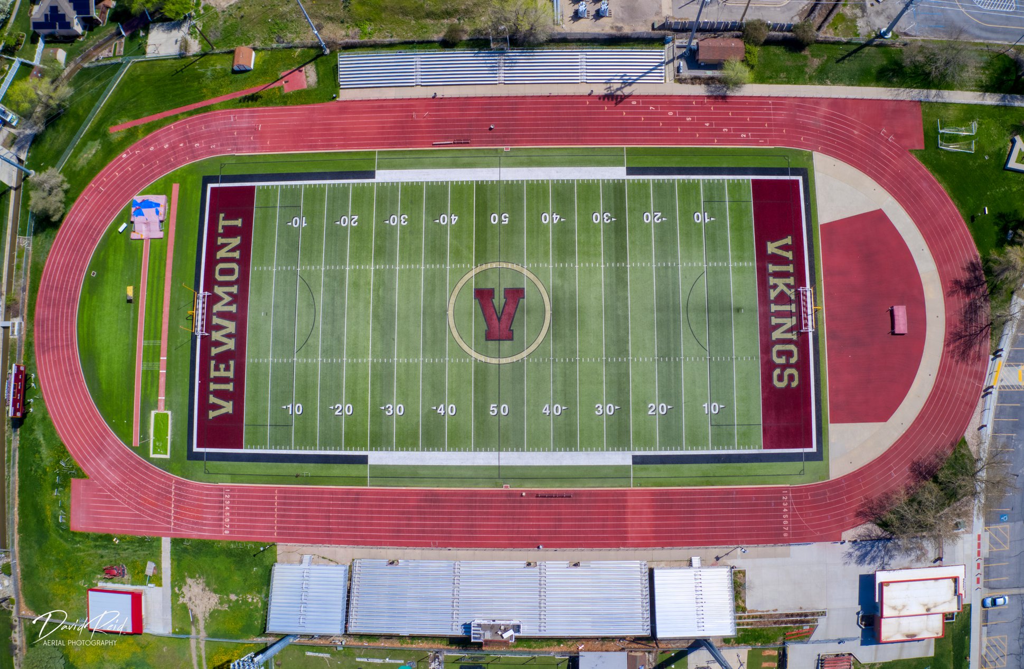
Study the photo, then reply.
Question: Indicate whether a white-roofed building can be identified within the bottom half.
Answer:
Yes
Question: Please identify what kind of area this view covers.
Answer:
sports ground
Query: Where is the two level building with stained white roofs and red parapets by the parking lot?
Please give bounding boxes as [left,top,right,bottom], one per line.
[870,564,967,643]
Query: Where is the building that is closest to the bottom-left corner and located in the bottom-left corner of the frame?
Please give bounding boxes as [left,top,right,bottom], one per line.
[87,586,145,633]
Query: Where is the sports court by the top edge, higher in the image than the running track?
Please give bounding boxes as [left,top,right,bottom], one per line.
[146,19,187,54]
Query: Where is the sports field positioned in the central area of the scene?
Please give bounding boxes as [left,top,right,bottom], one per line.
[244,179,762,452]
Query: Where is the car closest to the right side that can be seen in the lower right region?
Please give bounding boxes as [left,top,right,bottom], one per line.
[983,595,1012,610]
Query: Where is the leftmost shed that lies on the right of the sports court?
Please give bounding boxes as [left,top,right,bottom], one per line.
[231,44,254,71]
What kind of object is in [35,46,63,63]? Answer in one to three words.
shed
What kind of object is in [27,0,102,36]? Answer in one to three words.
house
